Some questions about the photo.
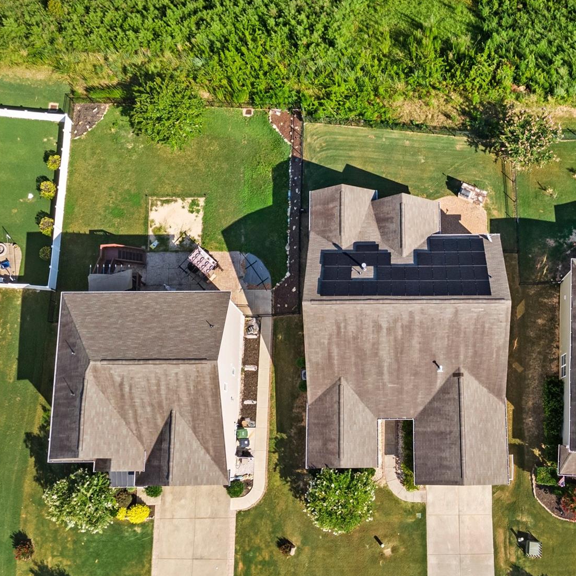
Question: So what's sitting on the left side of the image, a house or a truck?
house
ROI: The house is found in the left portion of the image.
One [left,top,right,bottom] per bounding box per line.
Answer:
[47,291,246,489]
